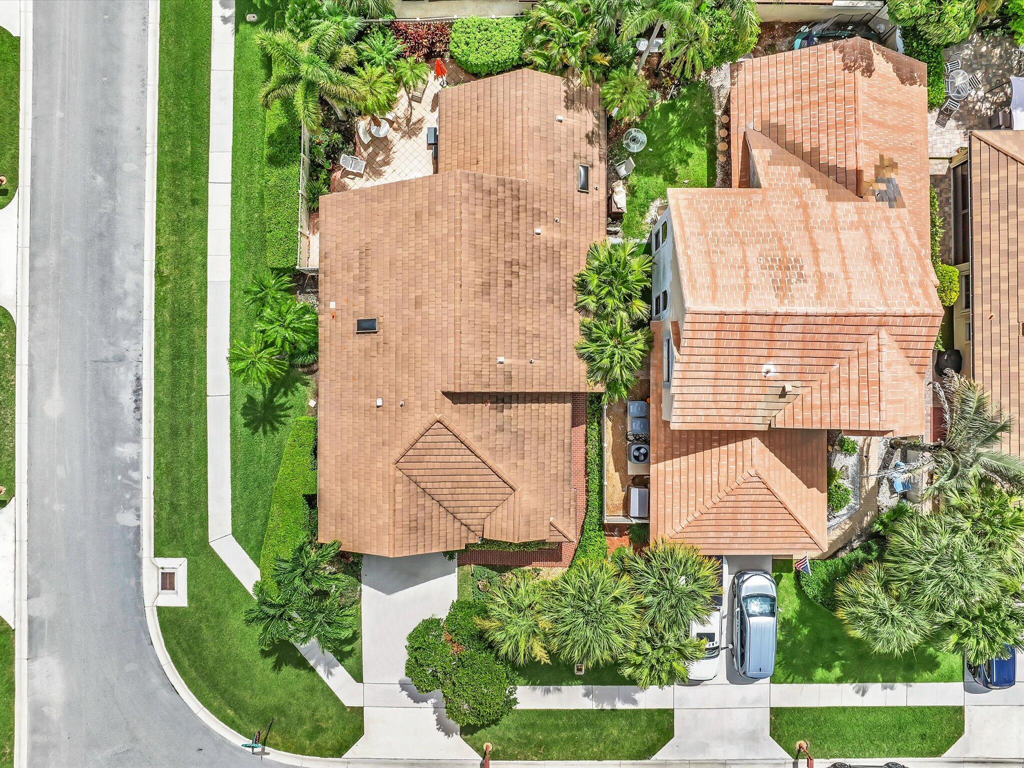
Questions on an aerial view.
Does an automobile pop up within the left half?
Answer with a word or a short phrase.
No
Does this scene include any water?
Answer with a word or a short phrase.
No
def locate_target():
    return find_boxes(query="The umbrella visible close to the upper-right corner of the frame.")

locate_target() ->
[982,79,1024,129]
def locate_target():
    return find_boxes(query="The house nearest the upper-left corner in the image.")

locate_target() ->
[316,69,608,556]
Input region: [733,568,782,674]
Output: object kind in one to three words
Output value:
car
